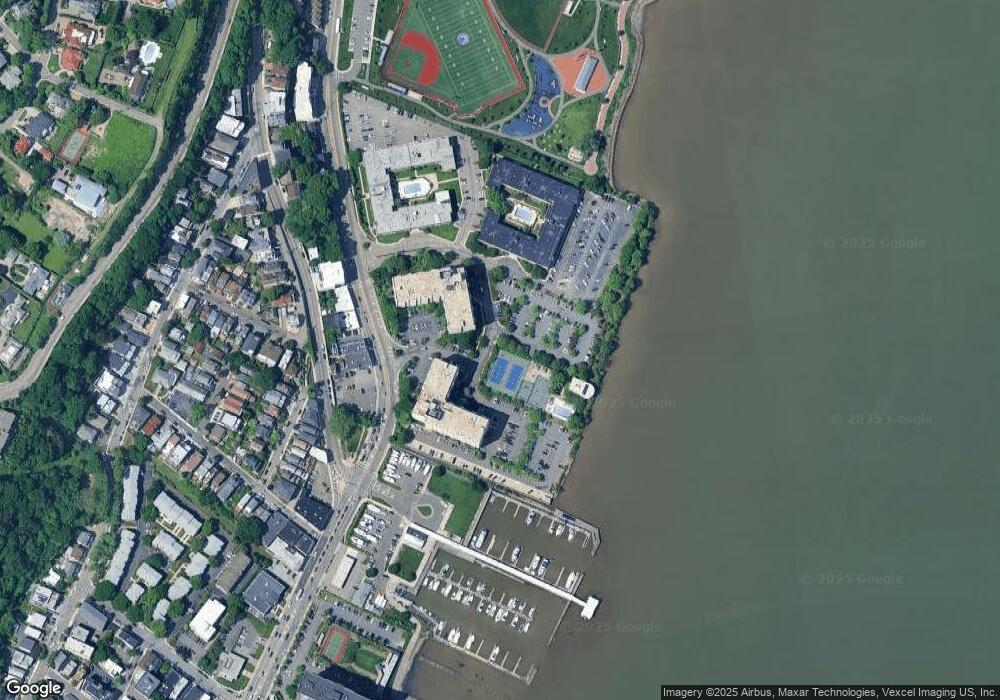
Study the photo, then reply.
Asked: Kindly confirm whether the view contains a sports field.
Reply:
Yes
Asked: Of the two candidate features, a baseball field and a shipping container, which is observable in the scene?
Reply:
baseball field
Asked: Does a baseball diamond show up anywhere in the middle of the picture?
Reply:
No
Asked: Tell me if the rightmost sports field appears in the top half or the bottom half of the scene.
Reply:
top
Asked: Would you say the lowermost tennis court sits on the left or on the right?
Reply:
left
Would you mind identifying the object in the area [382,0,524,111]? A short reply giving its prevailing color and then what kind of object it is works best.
green sports field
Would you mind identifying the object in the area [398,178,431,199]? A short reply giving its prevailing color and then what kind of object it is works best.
white swimming pool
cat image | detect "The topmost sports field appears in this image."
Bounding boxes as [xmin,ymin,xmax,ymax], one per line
[492,0,562,49]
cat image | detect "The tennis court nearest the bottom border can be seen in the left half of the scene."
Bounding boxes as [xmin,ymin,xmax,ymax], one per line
[321,626,350,663]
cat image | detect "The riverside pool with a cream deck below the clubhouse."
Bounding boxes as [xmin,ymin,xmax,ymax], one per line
[546,395,571,420]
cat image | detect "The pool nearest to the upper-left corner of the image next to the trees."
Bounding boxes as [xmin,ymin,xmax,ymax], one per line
[140,41,162,64]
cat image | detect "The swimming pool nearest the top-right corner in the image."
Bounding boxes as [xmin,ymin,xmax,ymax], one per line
[514,203,537,226]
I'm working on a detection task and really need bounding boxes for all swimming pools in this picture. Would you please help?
[514,203,537,226]
[140,41,162,64]
[398,178,431,199]
[546,395,571,420]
